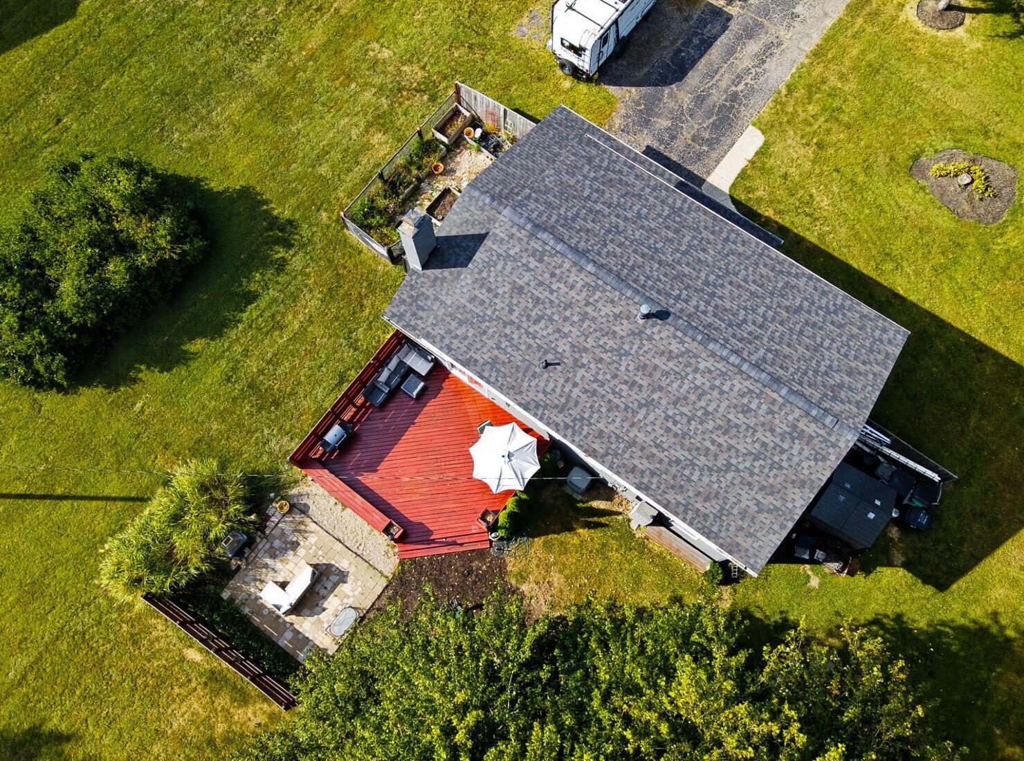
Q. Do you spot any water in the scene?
No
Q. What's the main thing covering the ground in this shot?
grass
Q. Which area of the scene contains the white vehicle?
top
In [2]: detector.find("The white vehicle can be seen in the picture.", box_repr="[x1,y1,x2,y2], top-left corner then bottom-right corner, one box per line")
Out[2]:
[548,0,649,79]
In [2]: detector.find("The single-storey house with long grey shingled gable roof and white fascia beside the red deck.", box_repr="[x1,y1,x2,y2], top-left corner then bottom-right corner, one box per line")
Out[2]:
[384,104,908,577]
